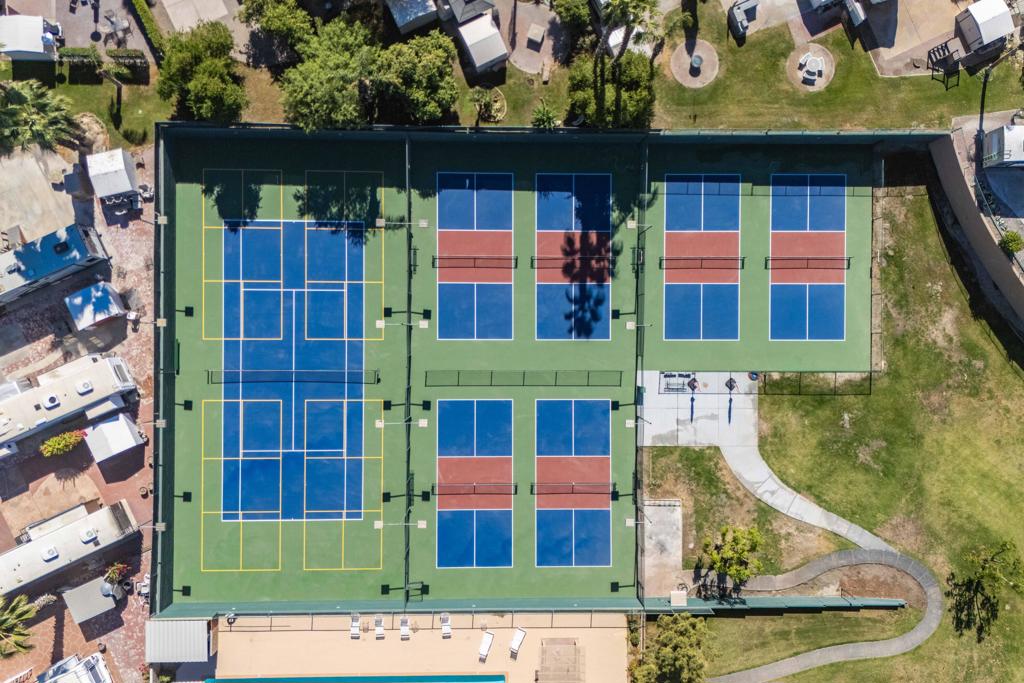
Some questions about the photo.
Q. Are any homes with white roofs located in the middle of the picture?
No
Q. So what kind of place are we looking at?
sports ground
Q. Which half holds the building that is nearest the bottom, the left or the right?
left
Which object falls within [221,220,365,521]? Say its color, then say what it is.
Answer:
blue tennis court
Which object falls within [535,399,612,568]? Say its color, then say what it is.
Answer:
blue sports court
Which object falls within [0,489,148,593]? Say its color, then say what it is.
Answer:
white camper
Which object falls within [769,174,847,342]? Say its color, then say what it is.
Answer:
blue sports court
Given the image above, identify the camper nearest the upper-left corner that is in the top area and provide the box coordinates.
[0,219,118,313]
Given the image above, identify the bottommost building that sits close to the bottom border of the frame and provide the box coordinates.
[146,620,219,662]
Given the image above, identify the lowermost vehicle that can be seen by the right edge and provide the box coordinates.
[981,126,1024,173]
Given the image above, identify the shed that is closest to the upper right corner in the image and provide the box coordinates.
[947,0,1016,56]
